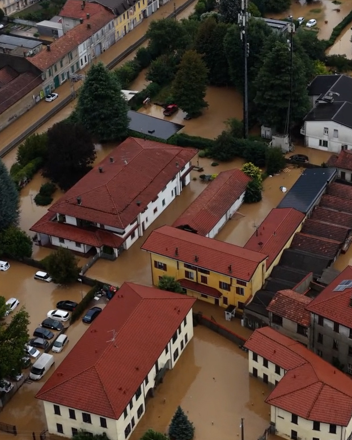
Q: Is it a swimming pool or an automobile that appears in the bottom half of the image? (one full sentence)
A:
It is an automobile that can be seen in the bottom half of the image.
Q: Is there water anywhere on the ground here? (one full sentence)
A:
Yes, there is water in the image.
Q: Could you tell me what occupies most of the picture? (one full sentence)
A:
What you mostly see from above here is buildings.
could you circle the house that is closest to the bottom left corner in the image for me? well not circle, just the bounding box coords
[35,283,197,440]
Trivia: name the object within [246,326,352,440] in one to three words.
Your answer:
house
